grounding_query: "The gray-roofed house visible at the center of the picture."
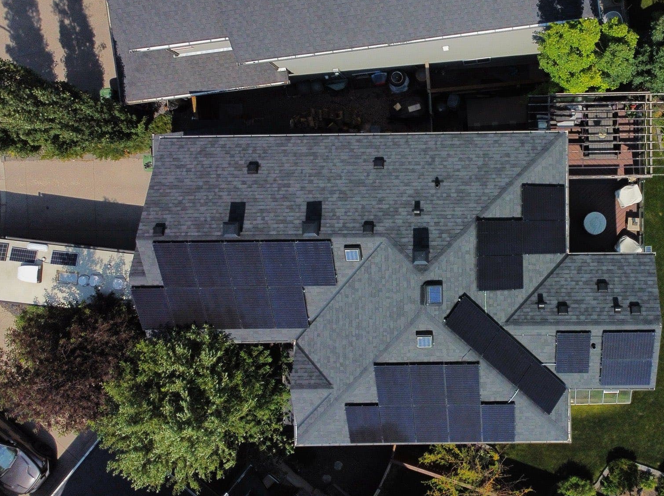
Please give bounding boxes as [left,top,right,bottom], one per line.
[128,128,662,449]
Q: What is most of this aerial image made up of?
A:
buildings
